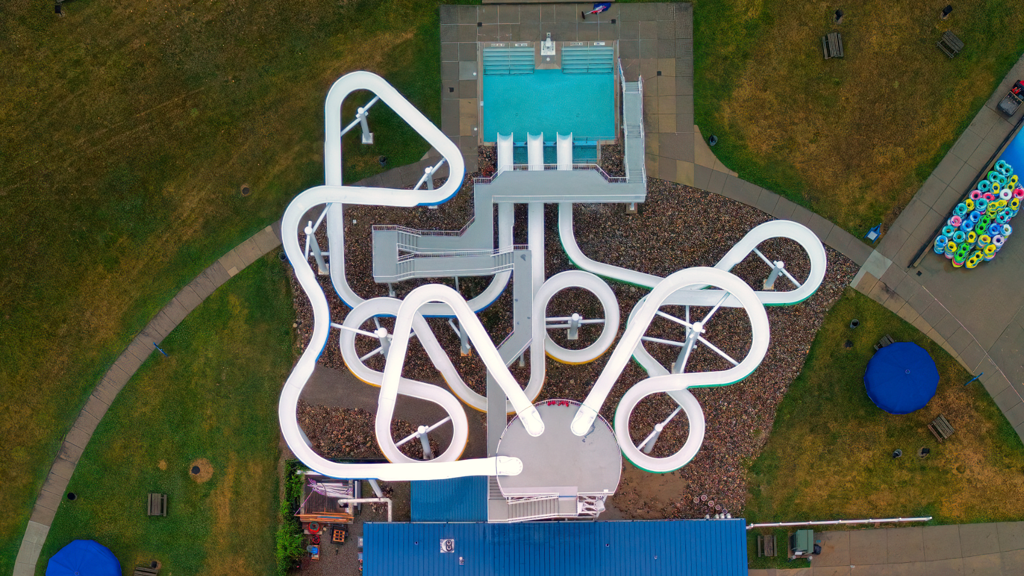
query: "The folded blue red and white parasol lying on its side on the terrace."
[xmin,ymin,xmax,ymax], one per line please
[581,1,610,18]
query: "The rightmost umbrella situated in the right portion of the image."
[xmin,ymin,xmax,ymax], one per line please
[865,344,938,416]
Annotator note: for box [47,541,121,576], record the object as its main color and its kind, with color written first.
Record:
blue umbrella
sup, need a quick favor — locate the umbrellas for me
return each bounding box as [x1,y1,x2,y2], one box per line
[865,344,938,416]
[47,541,121,576]
[581,1,610,18]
